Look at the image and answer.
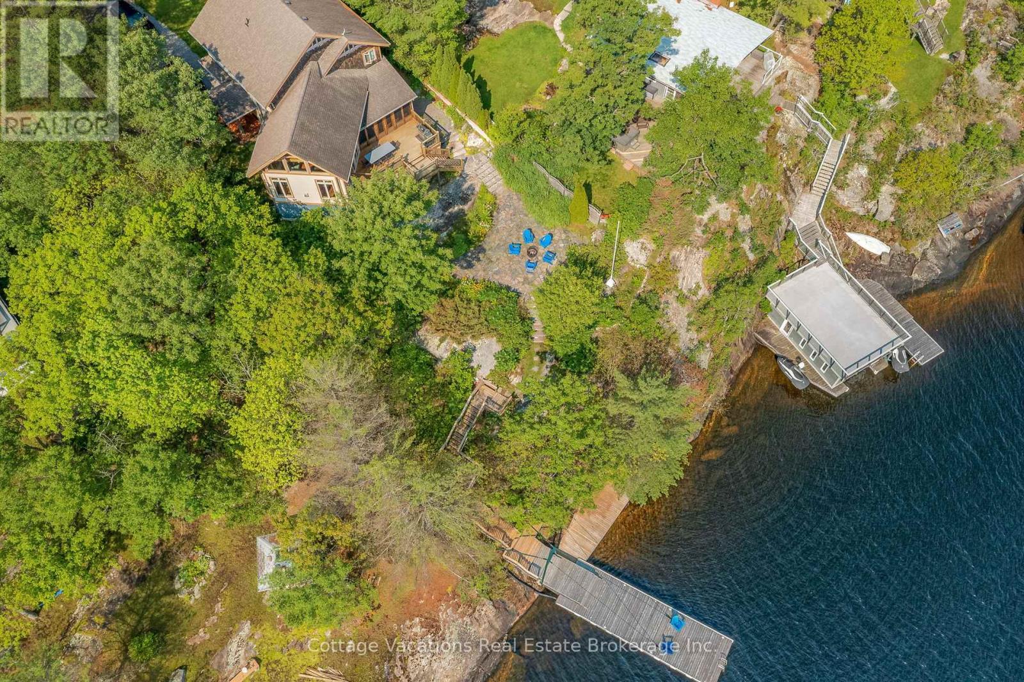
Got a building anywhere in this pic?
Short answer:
Yes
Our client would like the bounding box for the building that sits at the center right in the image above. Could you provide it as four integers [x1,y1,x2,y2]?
[762,256,912,398]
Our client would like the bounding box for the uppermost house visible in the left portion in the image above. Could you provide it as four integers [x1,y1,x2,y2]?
[175,0,418,219]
